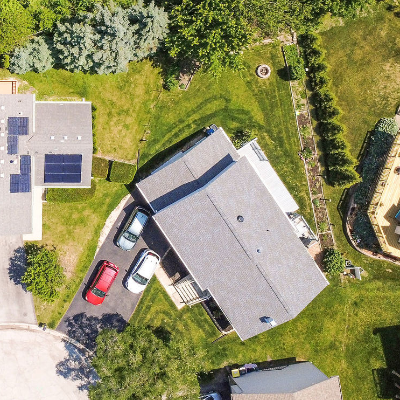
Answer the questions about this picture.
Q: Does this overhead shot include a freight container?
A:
No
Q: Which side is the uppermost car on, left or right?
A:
left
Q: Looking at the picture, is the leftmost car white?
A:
No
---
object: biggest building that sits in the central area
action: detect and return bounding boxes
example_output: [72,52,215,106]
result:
[135,126,329,342]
